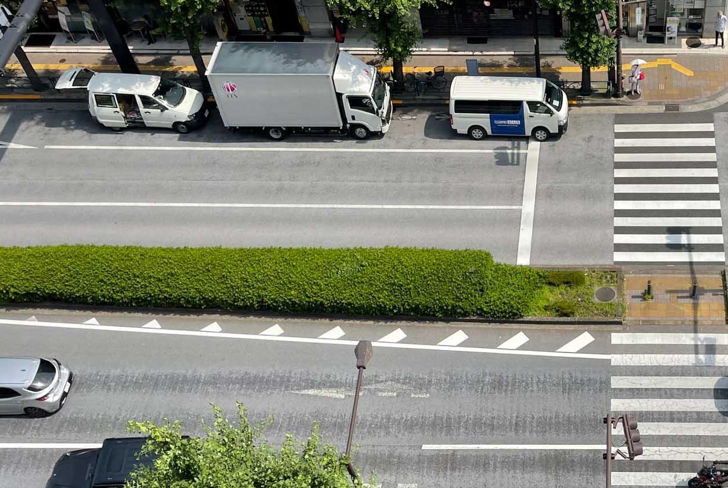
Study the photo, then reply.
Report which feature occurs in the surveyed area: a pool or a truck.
truck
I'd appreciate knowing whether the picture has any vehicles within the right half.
Yes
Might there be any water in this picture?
No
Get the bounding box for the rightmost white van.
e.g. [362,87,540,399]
[448,75,570,141]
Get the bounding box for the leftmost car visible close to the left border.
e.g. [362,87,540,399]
[0,354,69,417]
